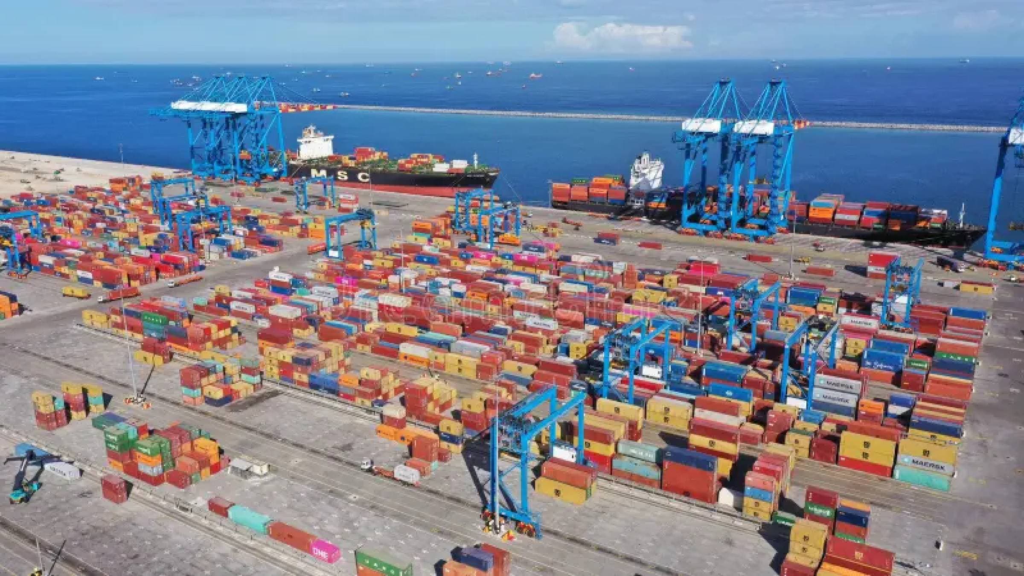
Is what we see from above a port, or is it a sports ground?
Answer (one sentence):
What you see here is a port.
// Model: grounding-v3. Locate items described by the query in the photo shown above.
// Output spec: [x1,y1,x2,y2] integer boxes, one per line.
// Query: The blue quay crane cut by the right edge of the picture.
[986,116,1024,267]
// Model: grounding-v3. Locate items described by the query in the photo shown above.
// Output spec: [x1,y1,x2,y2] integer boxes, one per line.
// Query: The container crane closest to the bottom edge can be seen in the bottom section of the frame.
[480,375,593,523]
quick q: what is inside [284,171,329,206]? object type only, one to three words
container crane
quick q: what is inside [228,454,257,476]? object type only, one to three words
shed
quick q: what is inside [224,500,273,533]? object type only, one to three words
shipping container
